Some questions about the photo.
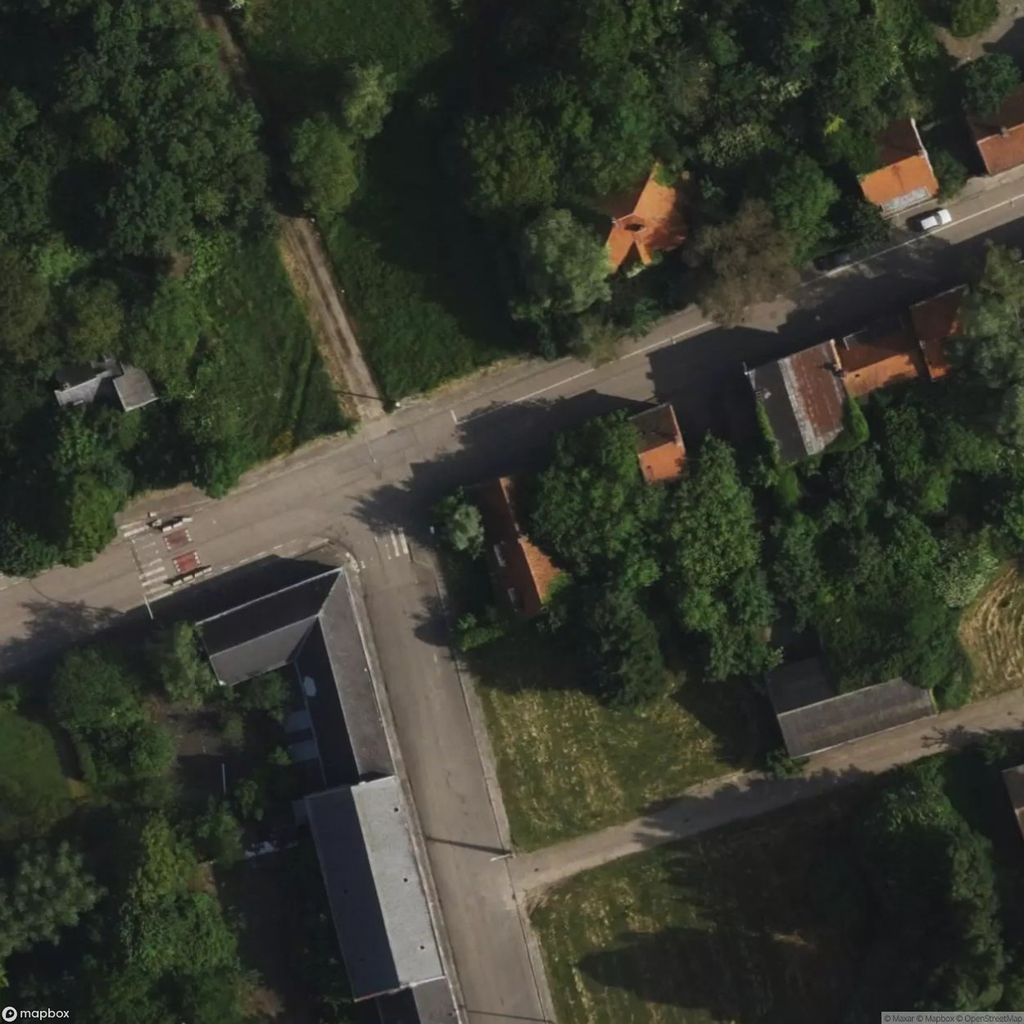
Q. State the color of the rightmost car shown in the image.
white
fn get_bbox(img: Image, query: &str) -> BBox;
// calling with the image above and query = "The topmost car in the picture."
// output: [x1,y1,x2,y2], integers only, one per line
[918,208,953,231]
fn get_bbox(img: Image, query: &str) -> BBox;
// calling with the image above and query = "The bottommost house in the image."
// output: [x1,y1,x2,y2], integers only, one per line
[375,977,459,1024]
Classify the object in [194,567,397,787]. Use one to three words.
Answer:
house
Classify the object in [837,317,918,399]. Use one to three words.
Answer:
house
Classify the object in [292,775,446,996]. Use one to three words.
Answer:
building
